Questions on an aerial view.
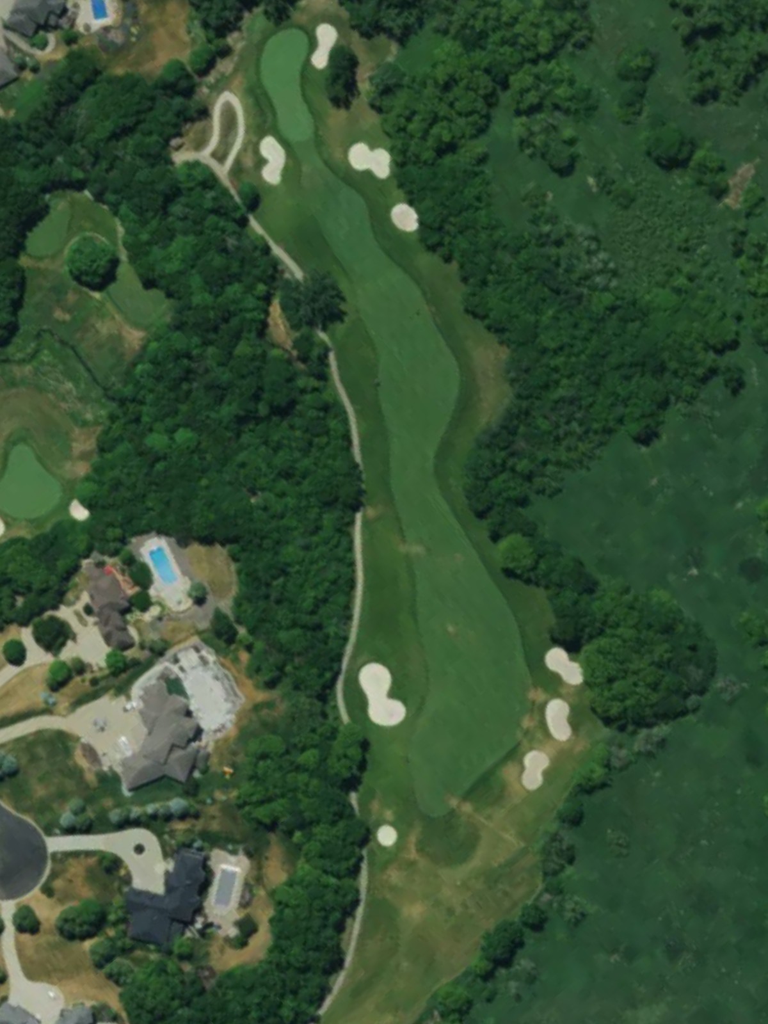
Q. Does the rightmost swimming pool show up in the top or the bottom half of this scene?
bottom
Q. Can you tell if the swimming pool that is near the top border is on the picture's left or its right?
left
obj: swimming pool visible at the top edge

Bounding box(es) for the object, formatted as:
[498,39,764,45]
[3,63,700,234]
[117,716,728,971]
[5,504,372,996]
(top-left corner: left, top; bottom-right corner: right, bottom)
[71,0,123,34]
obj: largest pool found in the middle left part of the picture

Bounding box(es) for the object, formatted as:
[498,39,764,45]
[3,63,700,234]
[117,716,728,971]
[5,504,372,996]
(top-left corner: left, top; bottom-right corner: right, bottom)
[141,538,193,611]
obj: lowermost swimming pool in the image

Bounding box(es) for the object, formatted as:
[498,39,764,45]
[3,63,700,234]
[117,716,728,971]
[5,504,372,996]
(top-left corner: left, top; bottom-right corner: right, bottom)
[204,849,250,936]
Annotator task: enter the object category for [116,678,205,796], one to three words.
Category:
house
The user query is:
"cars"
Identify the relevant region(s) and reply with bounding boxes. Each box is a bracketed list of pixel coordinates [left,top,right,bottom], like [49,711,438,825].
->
[117,736,132,757]
[124,699,140,710]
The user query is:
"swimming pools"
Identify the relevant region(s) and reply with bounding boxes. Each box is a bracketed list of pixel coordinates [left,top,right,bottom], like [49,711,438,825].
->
[141,538,193,611]
[71,0,123,34]
[204,849,250,936]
